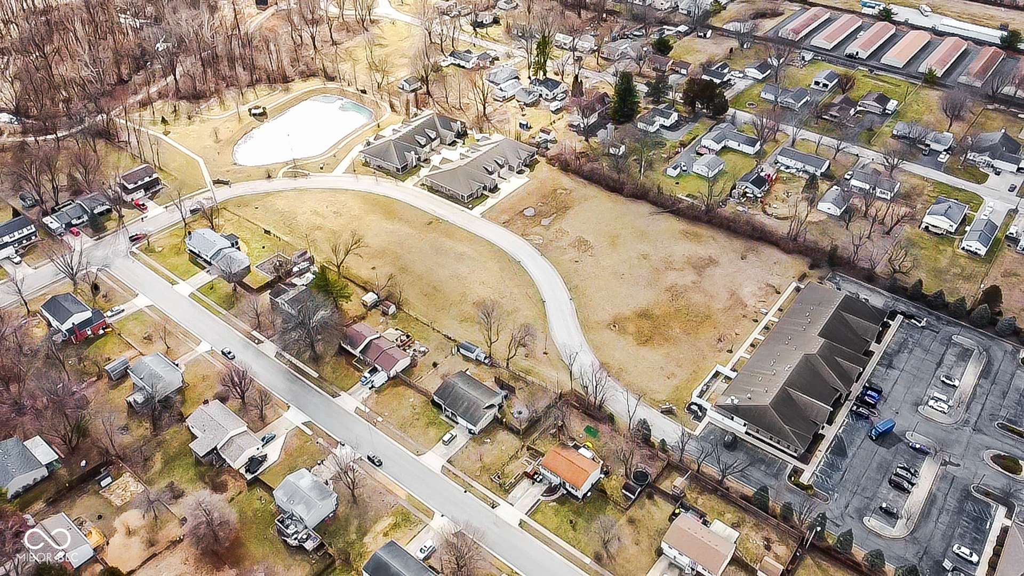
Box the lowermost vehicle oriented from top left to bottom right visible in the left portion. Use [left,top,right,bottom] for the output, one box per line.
[365,450,383,465]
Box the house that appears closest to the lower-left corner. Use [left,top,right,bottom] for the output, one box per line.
[22,508,104,576]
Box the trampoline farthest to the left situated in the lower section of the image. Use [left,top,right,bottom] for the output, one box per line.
[630,466,654,485]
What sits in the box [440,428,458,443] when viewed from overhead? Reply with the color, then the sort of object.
white car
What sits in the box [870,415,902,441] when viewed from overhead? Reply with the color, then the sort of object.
blue truck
